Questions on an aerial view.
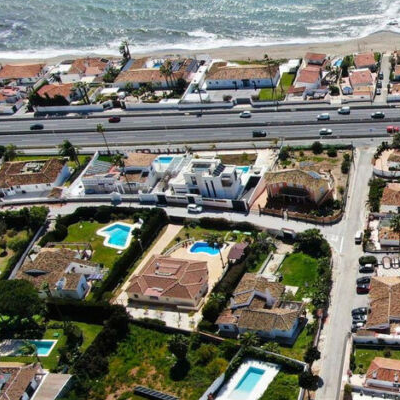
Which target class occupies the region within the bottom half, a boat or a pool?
pool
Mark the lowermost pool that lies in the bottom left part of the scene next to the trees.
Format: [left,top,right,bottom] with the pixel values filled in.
[26,338,61,358]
